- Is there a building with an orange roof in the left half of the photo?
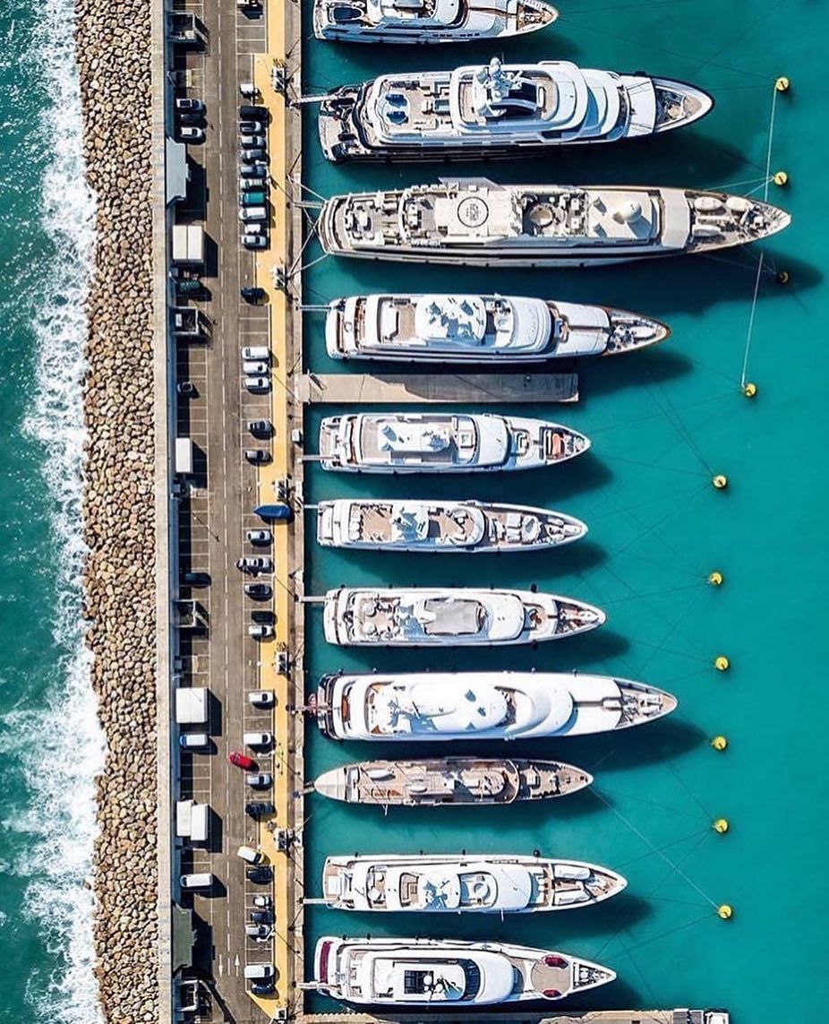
No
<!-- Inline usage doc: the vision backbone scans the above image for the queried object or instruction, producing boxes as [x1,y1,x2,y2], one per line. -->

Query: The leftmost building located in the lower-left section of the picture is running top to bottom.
[173,902,197,972]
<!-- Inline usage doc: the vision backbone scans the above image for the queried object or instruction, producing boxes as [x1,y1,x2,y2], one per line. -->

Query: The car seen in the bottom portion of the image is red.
[228,752,254,771]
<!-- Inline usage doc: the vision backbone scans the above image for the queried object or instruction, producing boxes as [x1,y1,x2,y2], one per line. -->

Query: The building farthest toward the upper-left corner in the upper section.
[166,136,192,208]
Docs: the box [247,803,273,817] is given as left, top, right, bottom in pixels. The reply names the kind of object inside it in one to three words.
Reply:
car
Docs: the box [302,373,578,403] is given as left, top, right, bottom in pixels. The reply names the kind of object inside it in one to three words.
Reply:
pier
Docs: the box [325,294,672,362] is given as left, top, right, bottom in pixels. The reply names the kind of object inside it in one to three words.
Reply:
boat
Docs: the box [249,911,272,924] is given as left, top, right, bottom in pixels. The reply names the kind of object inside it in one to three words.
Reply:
vehicle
